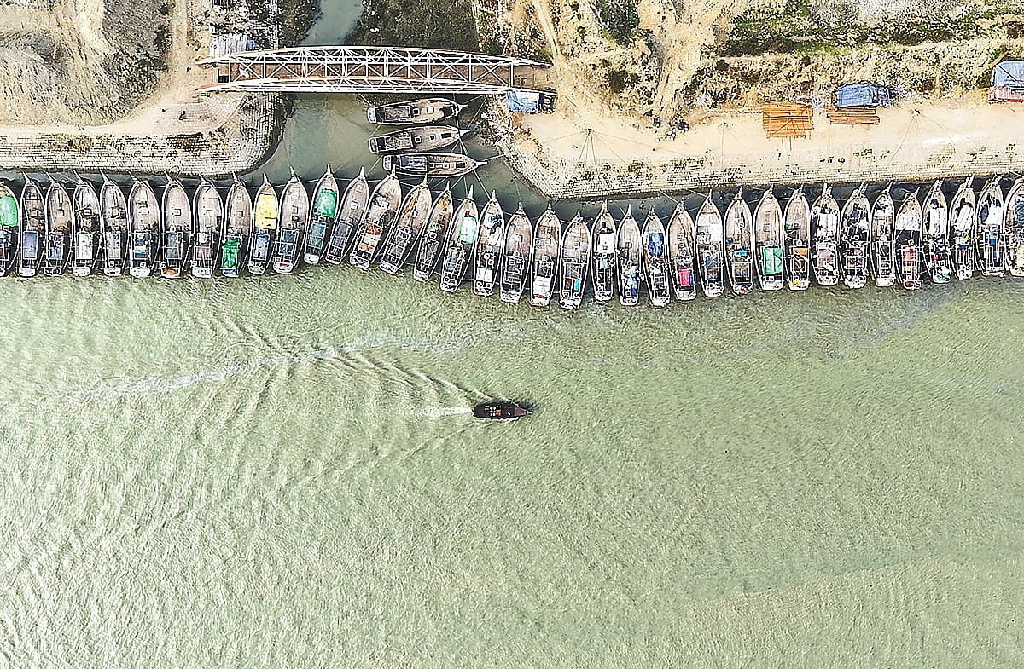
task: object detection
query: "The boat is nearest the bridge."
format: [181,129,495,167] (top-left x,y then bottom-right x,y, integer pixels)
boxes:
[368,100,467,127]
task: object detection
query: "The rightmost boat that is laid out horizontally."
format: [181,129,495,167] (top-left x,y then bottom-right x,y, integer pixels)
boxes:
[472,403,532,421]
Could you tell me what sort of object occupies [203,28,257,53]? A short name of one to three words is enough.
shed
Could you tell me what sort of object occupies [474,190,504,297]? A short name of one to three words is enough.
boat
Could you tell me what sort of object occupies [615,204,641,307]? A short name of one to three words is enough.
boat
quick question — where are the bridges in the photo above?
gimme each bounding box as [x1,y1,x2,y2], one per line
[192,46,560,93]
